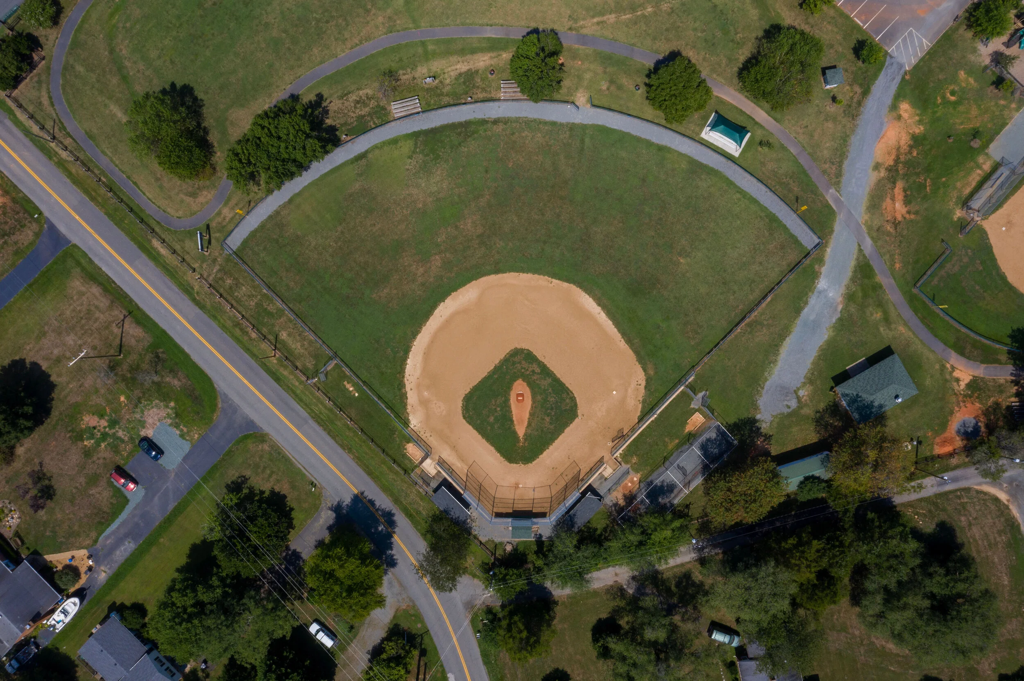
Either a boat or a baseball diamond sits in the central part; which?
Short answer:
baseball diamond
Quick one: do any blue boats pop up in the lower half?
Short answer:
No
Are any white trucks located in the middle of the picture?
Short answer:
No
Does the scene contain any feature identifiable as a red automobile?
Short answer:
Yes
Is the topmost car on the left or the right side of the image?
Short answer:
left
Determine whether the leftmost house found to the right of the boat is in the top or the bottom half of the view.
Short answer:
bottom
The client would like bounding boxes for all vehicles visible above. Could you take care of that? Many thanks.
[137,437,162,462]
[711,628,741,648]
[4,645,36,674]
[306,623,339,653]
[107,466,137,493]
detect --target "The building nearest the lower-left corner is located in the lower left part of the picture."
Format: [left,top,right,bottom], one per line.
[0,555,68,659]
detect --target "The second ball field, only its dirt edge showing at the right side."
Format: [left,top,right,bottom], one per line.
[919,182,1024,350]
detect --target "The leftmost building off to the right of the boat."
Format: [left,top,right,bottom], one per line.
[77,612,188,681]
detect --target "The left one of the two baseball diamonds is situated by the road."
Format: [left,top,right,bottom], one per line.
[223,99,823,517]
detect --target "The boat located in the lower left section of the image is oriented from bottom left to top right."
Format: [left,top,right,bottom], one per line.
[41,604,73,638]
